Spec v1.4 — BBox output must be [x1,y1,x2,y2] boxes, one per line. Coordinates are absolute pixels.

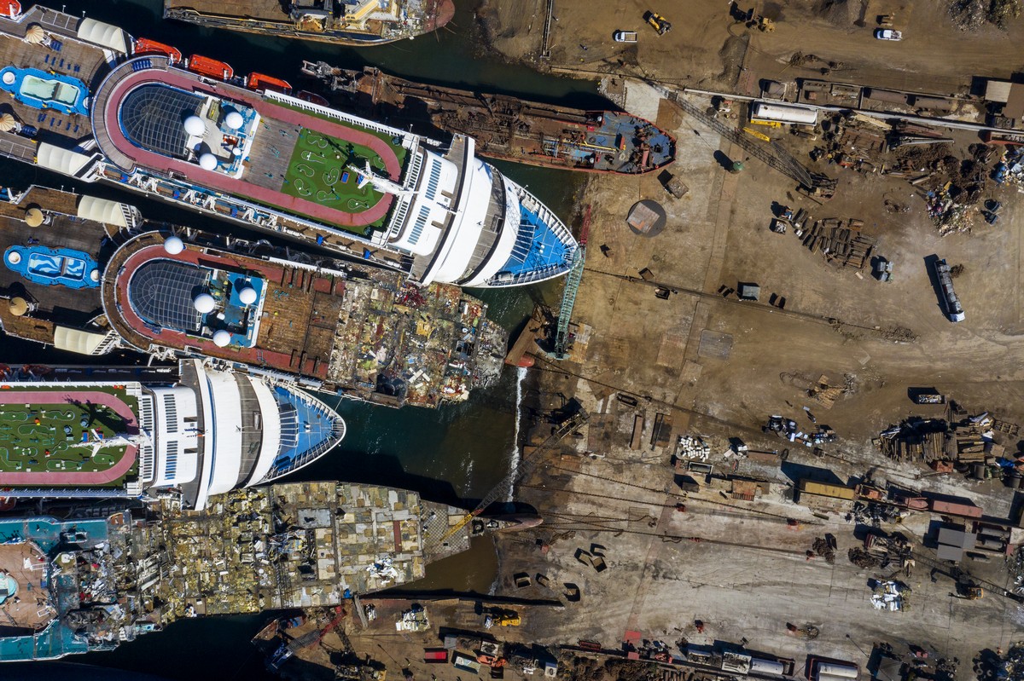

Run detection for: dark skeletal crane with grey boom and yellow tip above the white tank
[743,126,837,200]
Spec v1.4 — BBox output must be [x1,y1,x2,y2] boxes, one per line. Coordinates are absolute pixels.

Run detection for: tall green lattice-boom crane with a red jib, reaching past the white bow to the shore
[547,206,590,364]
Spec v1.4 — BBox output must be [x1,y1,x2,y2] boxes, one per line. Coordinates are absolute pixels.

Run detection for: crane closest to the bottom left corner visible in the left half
[258,608,350,677]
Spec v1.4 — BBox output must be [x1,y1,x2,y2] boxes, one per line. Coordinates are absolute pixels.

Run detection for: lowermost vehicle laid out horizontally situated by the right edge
[931,582,990,596]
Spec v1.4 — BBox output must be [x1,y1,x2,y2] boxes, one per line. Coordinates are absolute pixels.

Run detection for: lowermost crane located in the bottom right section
[912,551,1024,612]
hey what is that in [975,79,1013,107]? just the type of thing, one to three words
shed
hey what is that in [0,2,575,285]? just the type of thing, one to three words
ship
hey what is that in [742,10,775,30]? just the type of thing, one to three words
work vehicle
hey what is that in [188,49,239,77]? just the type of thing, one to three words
boat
